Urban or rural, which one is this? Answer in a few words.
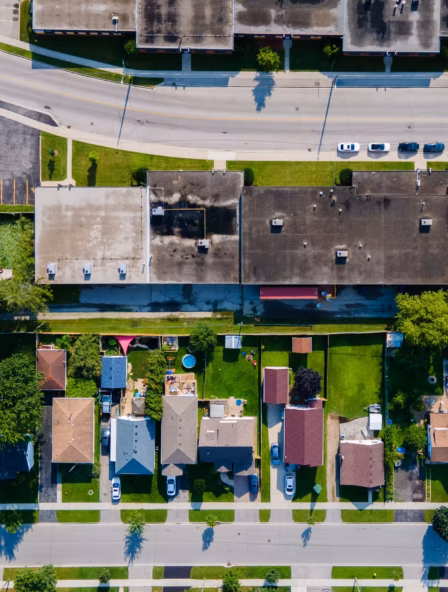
urban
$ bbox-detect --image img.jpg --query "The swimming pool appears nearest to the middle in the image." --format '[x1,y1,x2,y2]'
[182,354,197,368]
